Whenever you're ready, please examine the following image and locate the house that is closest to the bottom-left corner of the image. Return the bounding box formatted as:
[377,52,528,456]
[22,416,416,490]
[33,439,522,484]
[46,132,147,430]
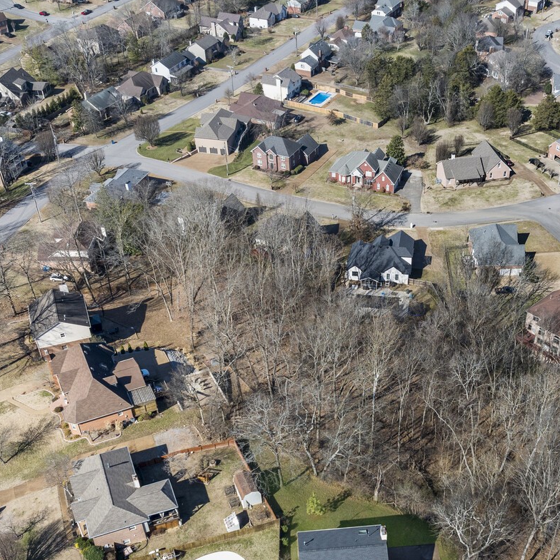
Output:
[66,445,182,547]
